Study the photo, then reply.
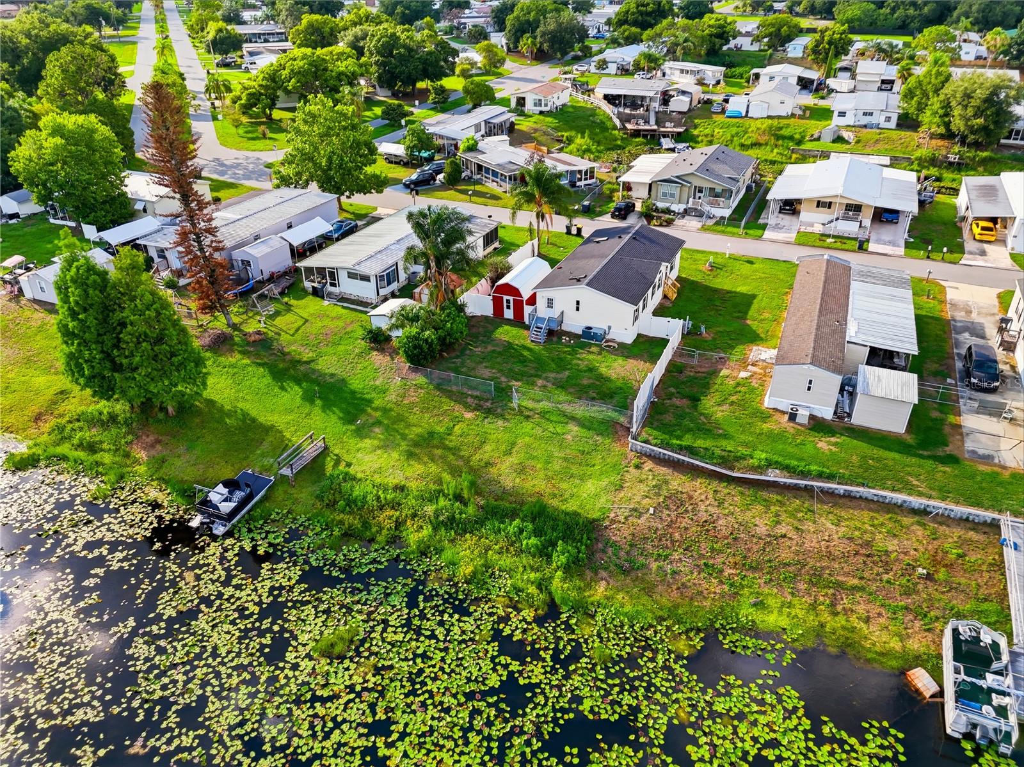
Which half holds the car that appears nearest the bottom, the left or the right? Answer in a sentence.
The car that appears nearest the bottom sits on the right side.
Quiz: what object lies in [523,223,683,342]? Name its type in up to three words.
house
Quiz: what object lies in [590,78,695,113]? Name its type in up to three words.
house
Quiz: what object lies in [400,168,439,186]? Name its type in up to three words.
car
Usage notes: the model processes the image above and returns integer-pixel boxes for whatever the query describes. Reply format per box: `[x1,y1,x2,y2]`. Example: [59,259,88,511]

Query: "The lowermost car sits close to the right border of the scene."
[959,339,1004,387]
